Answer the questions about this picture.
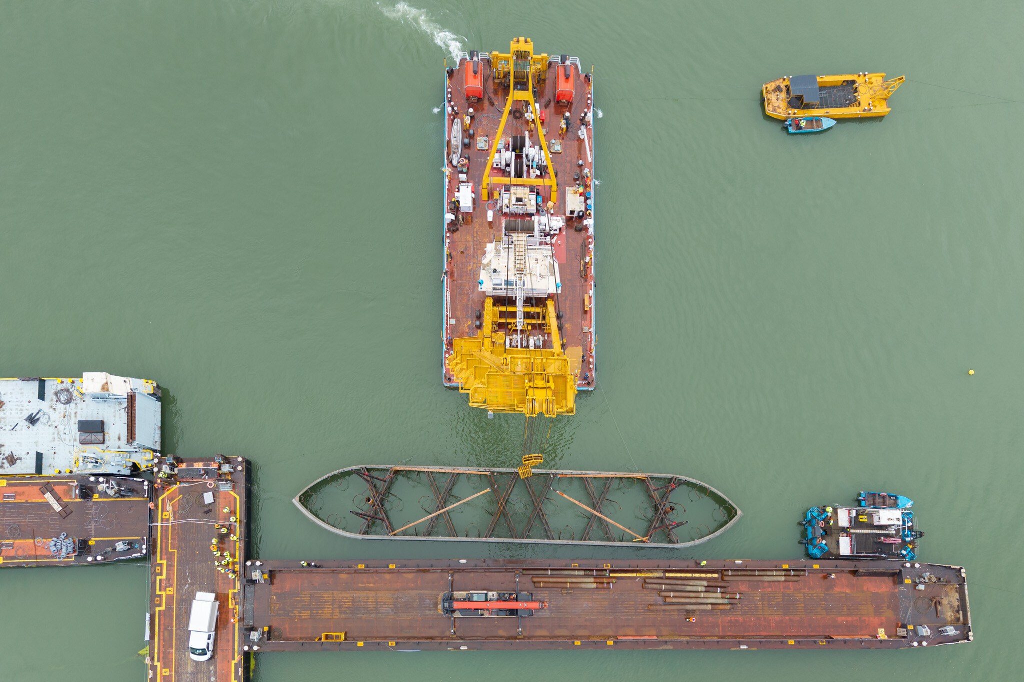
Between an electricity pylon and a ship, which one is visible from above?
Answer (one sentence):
The image shows a ship.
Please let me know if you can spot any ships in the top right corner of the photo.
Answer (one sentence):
Yes, there is a ship in the top right corner of the photo.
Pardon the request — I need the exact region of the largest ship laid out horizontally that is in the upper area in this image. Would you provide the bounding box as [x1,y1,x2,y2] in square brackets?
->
[761,72,906,121]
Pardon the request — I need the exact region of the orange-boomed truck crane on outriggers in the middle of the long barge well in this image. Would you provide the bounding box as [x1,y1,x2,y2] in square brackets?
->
[442,572,547,638]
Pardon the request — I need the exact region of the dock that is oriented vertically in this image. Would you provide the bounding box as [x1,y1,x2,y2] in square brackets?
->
[148,452,250,682]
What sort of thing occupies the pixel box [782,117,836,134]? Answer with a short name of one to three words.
boat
